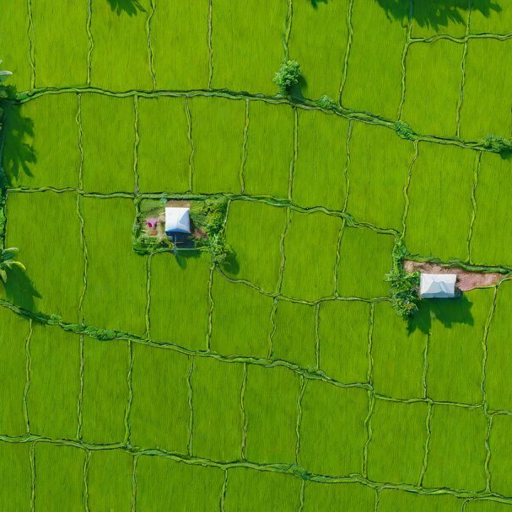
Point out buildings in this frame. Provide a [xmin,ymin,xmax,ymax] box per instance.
[165,208,191,236]
[417,274,456,300]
